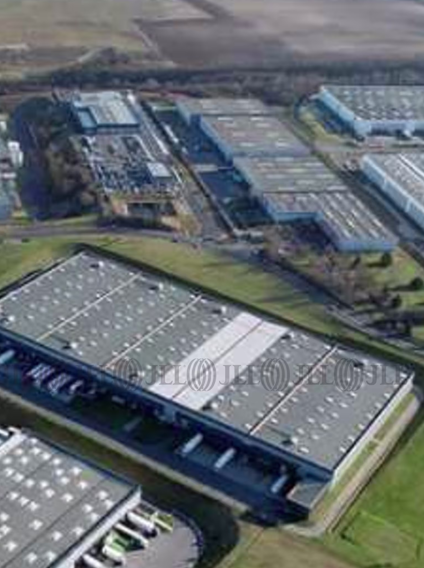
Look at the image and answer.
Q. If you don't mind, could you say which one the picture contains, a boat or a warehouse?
warehouse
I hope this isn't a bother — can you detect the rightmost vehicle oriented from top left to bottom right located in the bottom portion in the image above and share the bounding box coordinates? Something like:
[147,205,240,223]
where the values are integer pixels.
[127,513,157,539]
